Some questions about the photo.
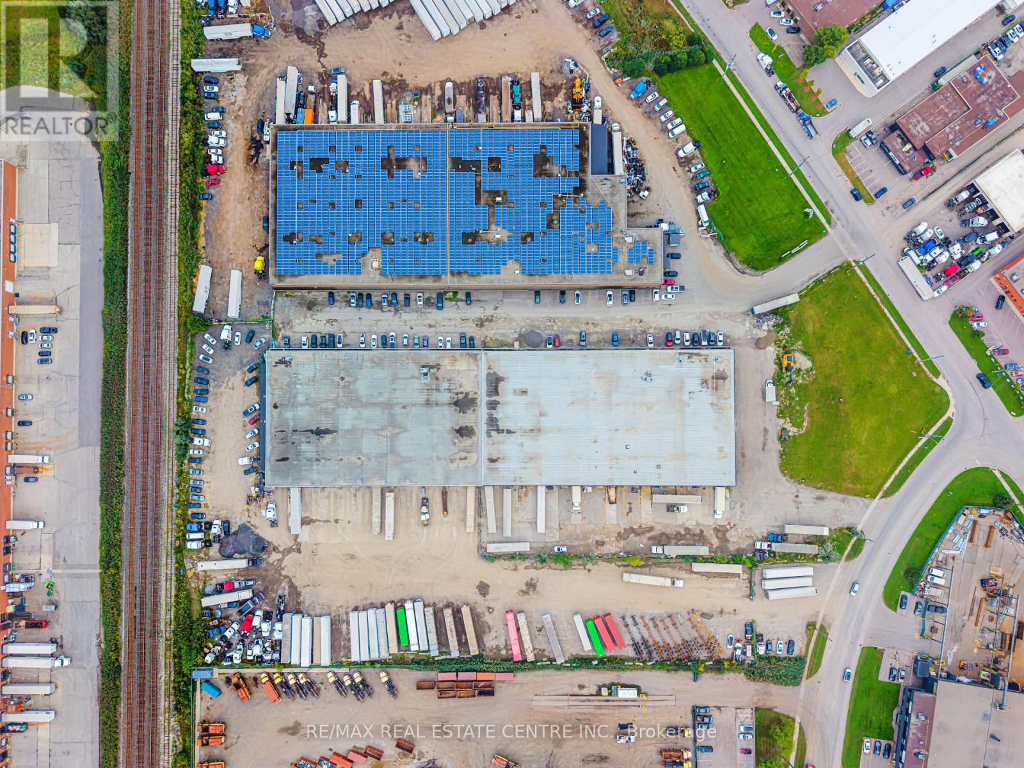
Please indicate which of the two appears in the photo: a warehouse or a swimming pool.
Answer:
warehouse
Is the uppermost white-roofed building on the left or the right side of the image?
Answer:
right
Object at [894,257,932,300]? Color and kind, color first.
white trailer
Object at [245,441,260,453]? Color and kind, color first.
white vehicle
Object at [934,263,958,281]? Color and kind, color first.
red vehicle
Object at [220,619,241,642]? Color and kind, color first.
white truck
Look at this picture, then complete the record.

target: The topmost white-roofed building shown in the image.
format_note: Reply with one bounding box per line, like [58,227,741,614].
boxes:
[835,0,1016,99]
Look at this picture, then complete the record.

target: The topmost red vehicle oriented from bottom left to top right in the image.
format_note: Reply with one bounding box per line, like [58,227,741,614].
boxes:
[907,167,931,185]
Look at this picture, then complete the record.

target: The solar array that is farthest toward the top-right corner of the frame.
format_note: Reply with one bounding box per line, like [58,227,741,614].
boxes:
[629,241,654,264]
